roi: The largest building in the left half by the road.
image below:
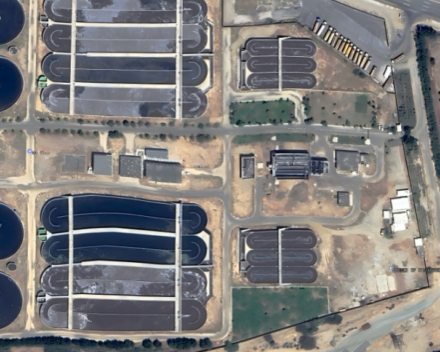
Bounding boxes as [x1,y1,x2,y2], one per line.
[144,160,182,184]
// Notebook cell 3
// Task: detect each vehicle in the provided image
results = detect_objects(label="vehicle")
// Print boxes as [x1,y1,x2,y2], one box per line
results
[335,35,344,49]
[339,38,347,51]
[324,27,333,41]
[370,66,378,76]
[364,56,373,71]
[317,21,327,35]
[342,39,350,54]
[356,51,364,66]
[360,52,369,69]
[349,46,357,60]
[345,43,354,57]
[314,17,320,33]
[328,29,337,43]
[392,53,405,63]
[331,33,339,46]
[353,48,361,63]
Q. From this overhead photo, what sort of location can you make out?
industrial area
